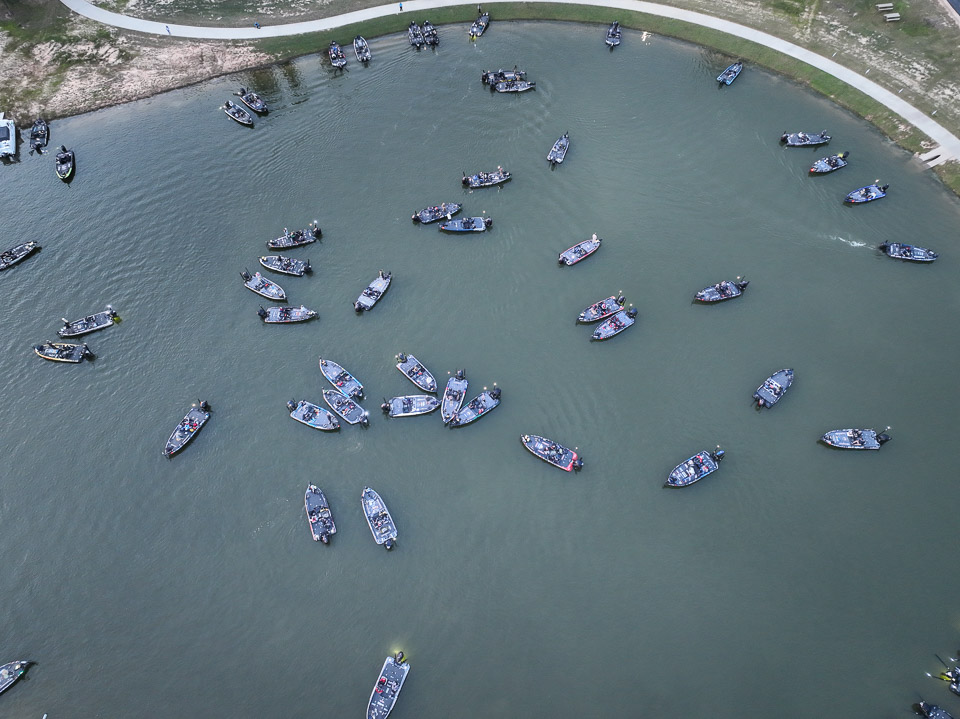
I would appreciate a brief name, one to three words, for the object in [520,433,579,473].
boat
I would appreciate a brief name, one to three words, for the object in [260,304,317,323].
boat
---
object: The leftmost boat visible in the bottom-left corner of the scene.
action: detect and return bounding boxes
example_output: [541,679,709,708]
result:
[0,657,32,692]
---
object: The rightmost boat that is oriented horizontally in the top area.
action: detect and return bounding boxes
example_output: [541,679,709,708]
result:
[884,243,938,262]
